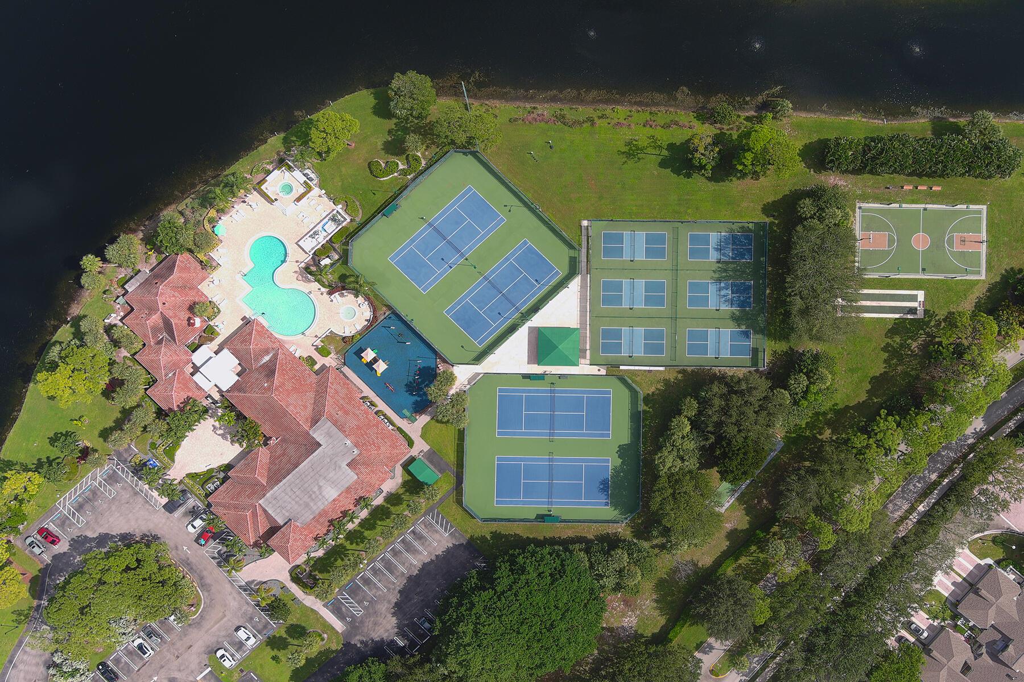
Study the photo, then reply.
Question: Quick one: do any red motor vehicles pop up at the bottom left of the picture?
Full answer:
Yes, the scene does show a red motor vehicle at the bottom left of the picture.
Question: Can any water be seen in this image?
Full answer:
Yes, there is water in the image.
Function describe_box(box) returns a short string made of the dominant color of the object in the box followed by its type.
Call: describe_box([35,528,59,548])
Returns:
red car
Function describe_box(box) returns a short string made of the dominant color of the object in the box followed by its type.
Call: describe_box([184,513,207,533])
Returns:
white car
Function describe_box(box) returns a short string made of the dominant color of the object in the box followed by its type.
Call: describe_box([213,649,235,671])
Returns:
white car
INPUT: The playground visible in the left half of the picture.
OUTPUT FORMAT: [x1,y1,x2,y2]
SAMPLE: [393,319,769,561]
[345,312,436,419]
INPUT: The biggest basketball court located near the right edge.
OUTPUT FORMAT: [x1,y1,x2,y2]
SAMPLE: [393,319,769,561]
[854,203,987,279]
